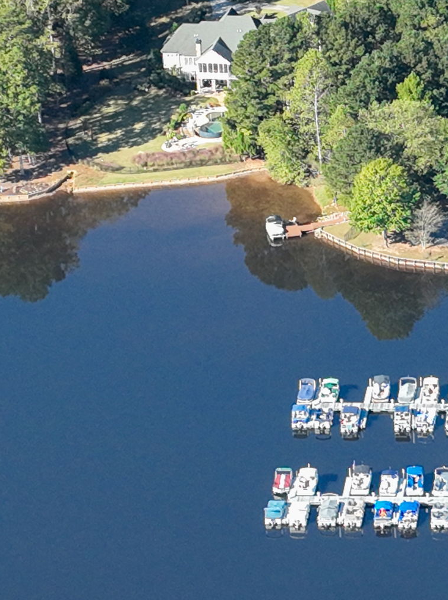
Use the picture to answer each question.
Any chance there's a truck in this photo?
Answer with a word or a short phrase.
No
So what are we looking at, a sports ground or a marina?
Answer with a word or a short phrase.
marina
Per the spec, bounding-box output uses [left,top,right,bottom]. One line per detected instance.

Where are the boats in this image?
[340,408,362,436]
[415,408,437,437]
[318,374,341,404]
[371,374,392,403]
[404,463,427,495]
[378,463,400,495]
[291,405,315,434]
[419,374,441,403]
[349,463,374,495]
[342,501,366,533]
[286,499,310,533]
[428,501,448,533]
[295,463,321,495]
[396,370,417,403]
[267,221,284,245]
[264,498,289,530]
[316,499,340,533]
[371,501,396,536]
[398,501,421,533]
[295,372,317,406]
[433,459,448,495]
[313,405,335,435]
[392,408,414,436]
